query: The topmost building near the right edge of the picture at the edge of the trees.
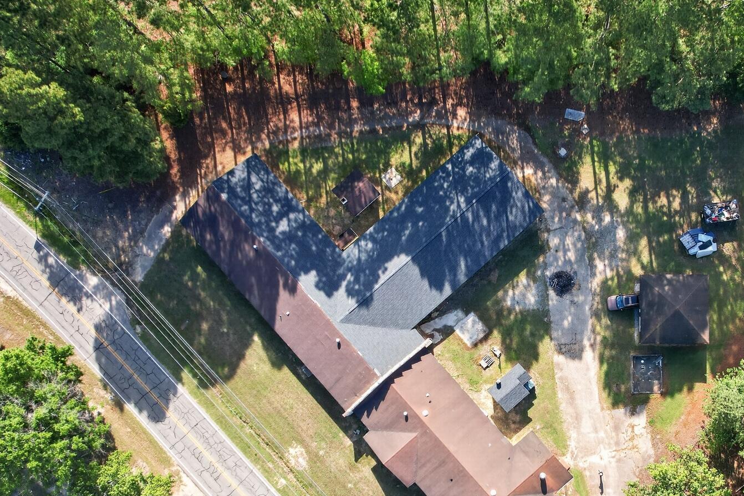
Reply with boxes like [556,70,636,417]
[638,274,710,345]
